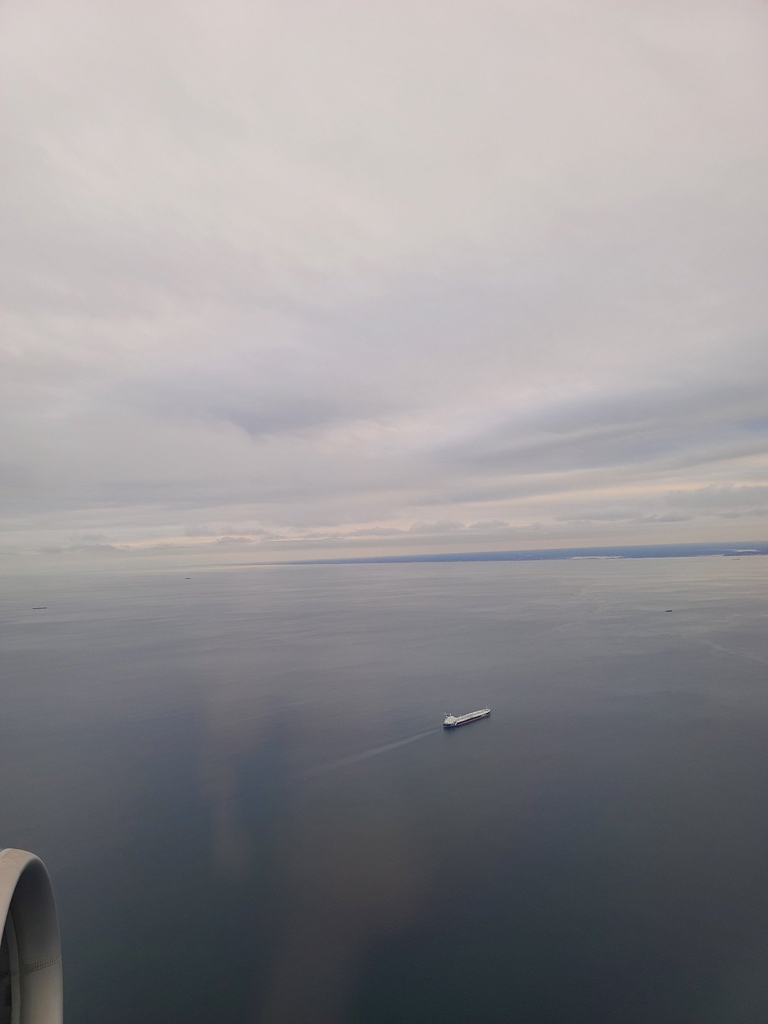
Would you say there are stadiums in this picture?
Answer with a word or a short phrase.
No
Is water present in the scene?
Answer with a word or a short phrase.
Yes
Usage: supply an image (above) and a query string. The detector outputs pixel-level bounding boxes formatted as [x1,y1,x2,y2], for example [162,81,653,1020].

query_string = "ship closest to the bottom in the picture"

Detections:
[442,706,492,726]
